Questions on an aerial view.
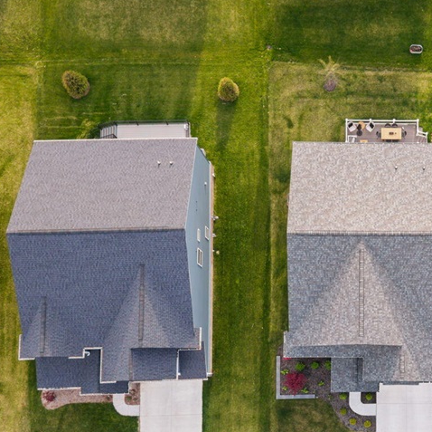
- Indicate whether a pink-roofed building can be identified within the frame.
No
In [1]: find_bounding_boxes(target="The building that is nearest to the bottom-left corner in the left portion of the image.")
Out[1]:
[2,138,216,395]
